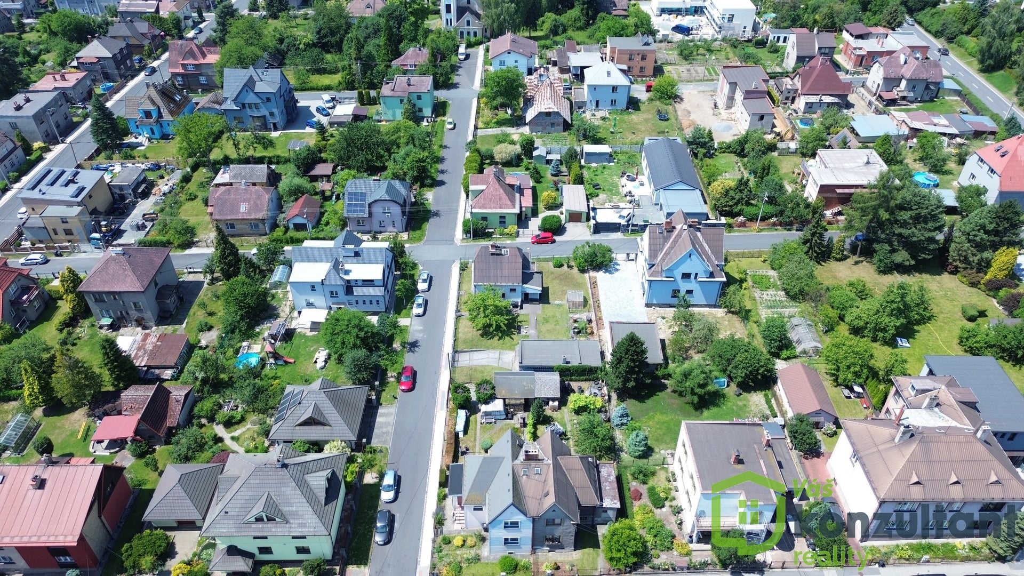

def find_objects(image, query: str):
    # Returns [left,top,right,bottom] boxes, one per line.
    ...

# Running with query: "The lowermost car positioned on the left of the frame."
[370,505,393,545]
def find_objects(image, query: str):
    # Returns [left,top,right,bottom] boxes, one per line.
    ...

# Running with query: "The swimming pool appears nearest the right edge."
[909,173,941,187]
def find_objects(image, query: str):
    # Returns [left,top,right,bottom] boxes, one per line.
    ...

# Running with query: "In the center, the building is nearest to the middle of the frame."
[474,243,543,307]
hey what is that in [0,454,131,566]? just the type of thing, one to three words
house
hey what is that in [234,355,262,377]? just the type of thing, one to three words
swimming pool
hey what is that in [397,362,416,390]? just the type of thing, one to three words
car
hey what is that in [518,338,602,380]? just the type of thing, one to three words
shed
